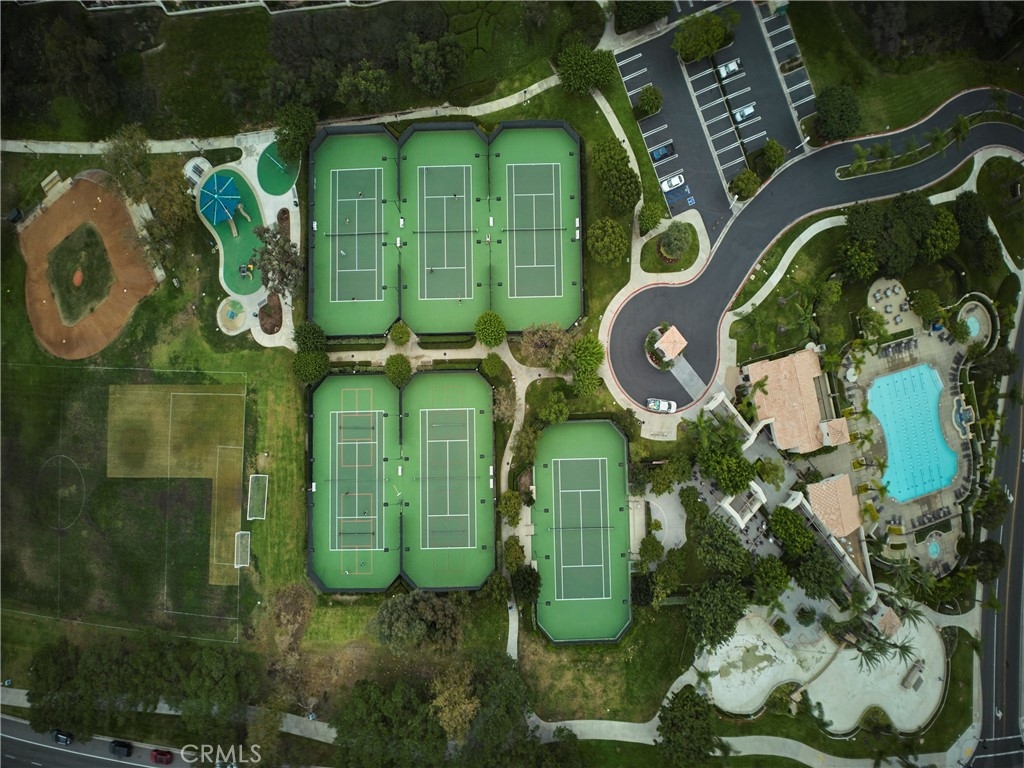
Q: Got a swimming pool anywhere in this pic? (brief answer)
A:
Yes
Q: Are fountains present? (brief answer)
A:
Yes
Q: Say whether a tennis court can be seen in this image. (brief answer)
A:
Yes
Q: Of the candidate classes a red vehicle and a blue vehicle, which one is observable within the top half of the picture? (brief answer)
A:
blue vehicle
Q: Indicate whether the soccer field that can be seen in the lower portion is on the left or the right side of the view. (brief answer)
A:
left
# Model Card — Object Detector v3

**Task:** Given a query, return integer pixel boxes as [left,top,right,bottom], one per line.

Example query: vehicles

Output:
[648,142,674,161]
[730,102,756,120]
[148,748,175,766]
[716,57,745,77]
[660,173,686,192]
[645,398,676,412]
[48,729,76,747]
[107,739,135,757]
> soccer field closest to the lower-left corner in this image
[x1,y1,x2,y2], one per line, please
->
[0,364,246,643]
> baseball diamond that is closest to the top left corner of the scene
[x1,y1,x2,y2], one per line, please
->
[18,166,157,360]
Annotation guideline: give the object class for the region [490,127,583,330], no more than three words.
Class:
tennis court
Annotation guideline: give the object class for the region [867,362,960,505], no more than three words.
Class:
swimming pool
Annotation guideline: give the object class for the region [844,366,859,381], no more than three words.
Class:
umbrella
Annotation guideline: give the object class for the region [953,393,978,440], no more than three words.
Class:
fountain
